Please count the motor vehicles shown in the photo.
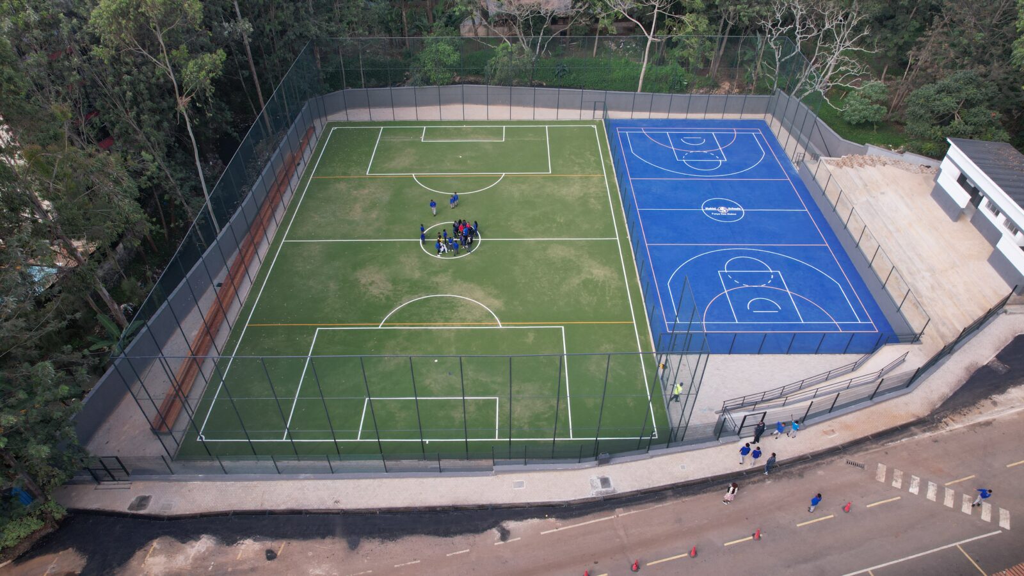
0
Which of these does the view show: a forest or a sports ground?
sports ground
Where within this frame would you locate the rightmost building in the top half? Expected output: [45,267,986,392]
[931,136,1024,295]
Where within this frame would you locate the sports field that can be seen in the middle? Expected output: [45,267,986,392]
[174,120,671,459]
